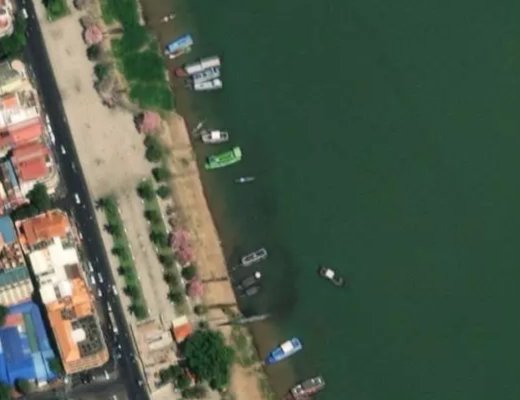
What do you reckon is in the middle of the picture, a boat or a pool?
boat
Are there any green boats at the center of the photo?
Yes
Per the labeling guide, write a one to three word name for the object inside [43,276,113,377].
building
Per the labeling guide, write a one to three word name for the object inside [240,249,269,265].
boat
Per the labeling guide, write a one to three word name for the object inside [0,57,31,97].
house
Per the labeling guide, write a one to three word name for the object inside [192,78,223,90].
boat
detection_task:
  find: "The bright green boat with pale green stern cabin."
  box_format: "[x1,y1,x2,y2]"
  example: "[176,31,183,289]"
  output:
[205,146,242,169]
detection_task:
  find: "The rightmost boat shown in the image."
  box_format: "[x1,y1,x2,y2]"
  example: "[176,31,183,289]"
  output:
[320,266,343,285]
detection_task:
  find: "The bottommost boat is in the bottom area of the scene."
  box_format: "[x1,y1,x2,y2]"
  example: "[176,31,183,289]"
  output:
[280,373,327,400]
